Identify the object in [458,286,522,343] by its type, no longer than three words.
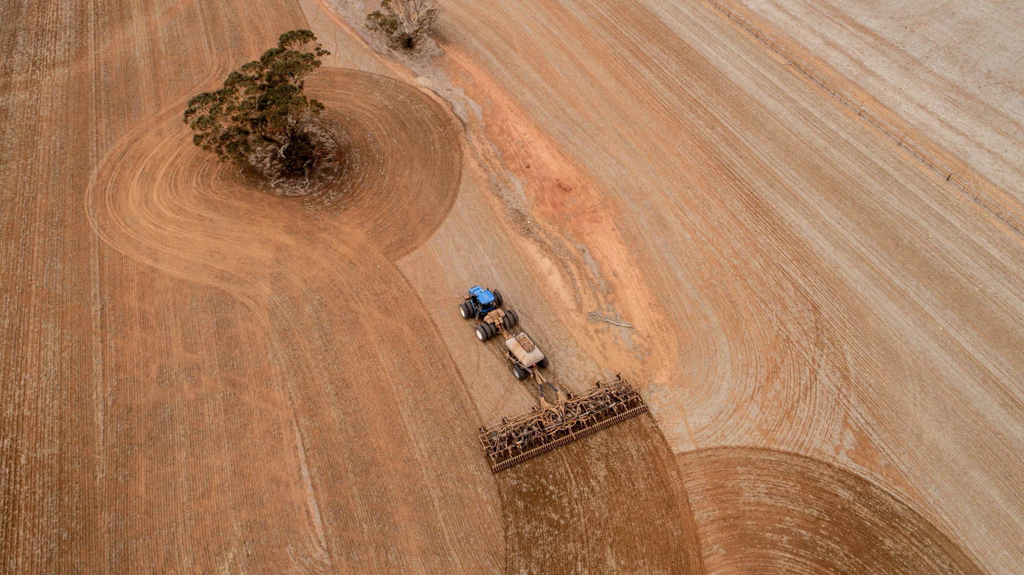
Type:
work vehicle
